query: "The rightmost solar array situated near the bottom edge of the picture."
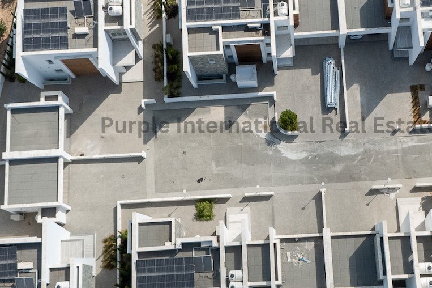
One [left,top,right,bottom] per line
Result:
[140,256,194,288]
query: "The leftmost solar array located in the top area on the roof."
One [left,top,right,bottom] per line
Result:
[23,4,69,52]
